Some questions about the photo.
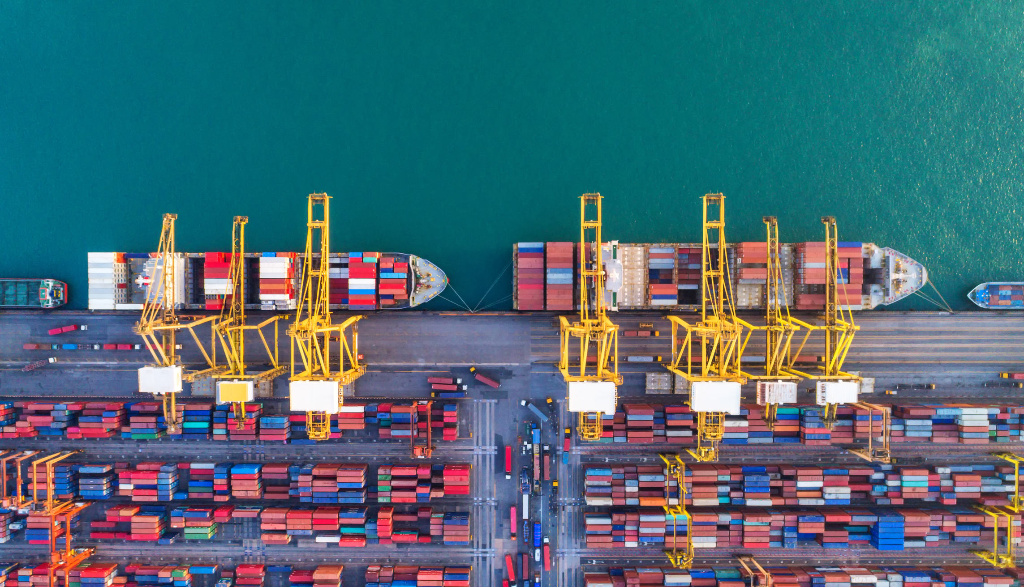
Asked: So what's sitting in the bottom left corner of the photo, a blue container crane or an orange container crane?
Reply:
orange container crane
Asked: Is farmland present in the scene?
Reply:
No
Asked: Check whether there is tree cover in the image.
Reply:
No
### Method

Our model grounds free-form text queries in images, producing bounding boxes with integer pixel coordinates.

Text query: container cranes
[844,398,889,459]
[410,398,438,463]
[50,500,98,567]
[134,213,229,435]
[654,450,686,514]
[660,503,692,570]
[684,413,718,463]
[285,187,370,440]
[661,188,745,440]
[962,502,1013,569]
[0,448,52,513]
[551,190,621,440]
[209,215,295,433]
[49,552,97,587]
[724,215,803,432]
[984,450,1024,514]
[779,215,862,432]
[32,448,81,514]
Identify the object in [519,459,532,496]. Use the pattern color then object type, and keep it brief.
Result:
blue vehicle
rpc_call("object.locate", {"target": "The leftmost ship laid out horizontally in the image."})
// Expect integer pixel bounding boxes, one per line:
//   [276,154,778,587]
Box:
[0,279,72,307]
